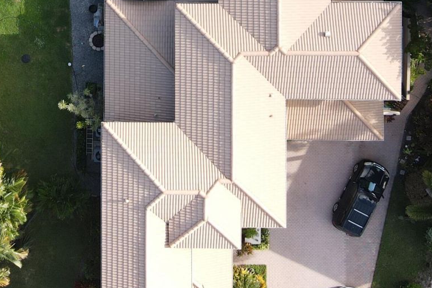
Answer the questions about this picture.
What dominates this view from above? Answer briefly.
buildings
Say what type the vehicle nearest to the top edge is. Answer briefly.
car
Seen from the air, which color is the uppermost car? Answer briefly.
black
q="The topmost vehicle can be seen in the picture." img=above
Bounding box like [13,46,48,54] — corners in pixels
[334,157,389,243]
